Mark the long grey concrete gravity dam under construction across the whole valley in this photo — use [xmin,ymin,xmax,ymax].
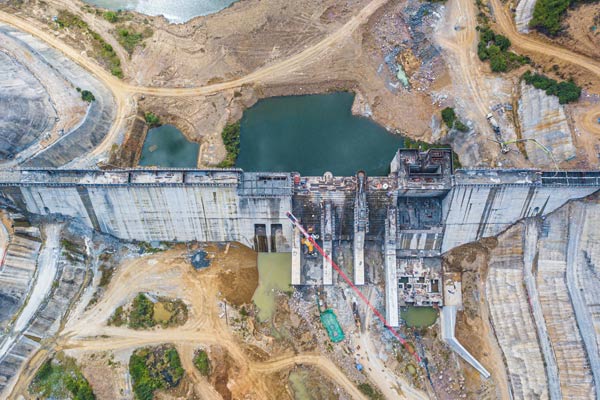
[0,149,600,327]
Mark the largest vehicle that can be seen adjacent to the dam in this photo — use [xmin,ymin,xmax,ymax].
[493,129,558,178]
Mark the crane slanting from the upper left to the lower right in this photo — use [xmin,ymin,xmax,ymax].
[287,211,438,371]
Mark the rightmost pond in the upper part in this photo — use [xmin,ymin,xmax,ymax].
[236,93,404,176]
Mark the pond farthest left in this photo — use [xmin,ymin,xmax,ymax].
[141,124,200,167]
